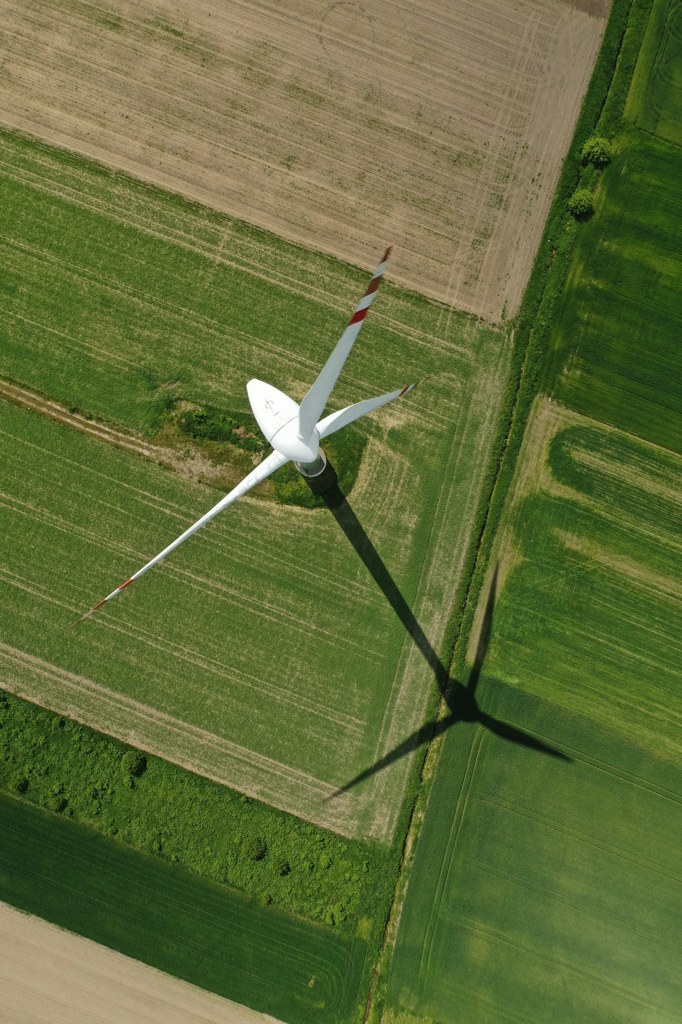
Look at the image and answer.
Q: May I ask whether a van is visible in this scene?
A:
No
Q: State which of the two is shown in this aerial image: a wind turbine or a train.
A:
wind turbine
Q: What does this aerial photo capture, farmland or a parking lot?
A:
farmland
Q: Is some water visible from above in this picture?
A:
No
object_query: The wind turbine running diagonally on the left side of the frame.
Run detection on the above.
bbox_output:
[70,244,431,628]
